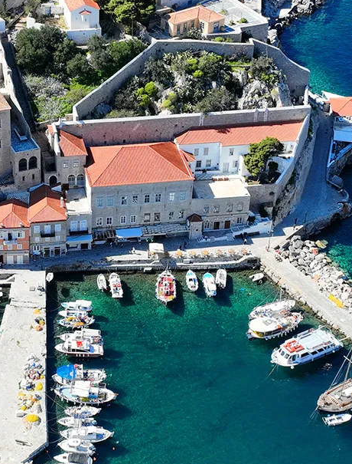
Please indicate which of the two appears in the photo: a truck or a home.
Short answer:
home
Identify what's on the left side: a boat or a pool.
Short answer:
boat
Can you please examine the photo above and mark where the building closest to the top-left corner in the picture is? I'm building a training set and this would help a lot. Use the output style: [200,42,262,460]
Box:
[59,0,102,43]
